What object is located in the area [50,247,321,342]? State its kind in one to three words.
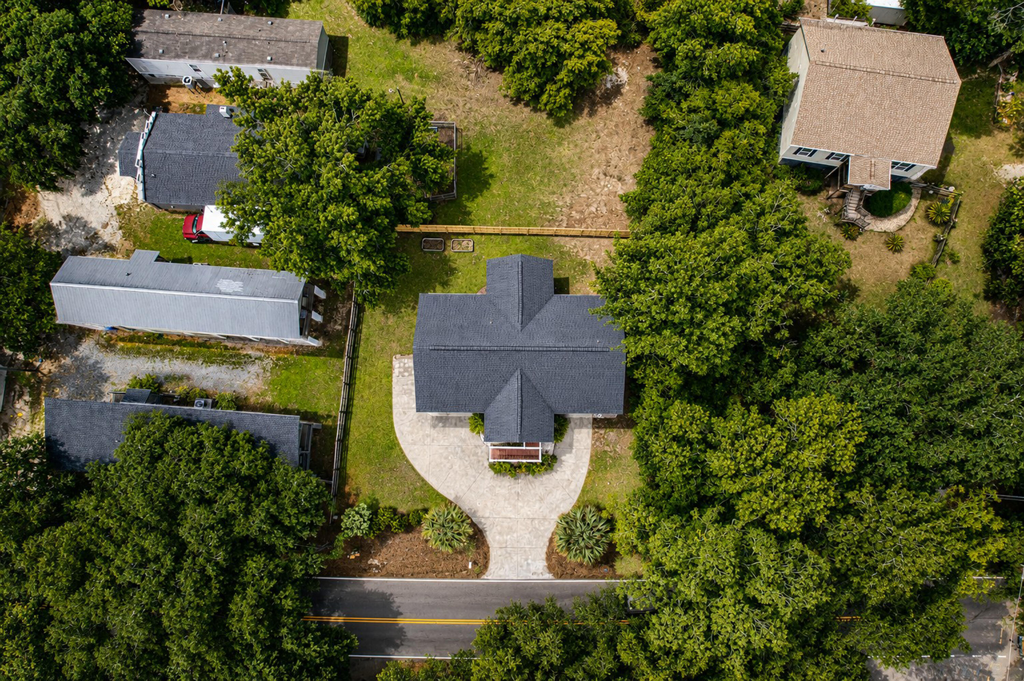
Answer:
house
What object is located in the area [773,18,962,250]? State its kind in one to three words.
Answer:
house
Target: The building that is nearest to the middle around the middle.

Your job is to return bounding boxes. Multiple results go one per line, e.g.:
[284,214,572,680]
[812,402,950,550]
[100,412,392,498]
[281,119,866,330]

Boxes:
[412,254,628,463]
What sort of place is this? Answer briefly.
residential area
